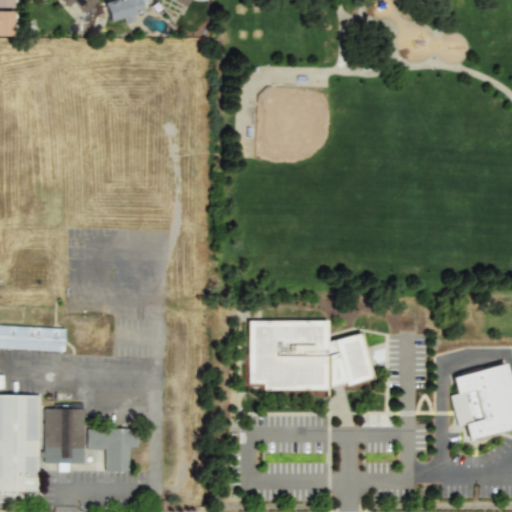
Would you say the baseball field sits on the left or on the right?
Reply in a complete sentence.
The baseball field appears in the right half of the scene.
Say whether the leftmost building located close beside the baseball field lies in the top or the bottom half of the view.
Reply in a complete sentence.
Seen from above, the leftmost building located close beside the baseball field lies in the bottom half of the view.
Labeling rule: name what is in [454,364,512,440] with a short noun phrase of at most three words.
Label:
building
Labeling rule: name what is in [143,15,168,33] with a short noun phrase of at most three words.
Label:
swimming pool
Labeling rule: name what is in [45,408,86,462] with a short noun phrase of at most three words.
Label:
building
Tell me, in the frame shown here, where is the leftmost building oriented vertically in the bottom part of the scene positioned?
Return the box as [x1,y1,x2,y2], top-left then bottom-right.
[0,395,40,493]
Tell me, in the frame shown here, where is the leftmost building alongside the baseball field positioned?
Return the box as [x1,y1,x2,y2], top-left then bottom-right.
[246,320,331,394]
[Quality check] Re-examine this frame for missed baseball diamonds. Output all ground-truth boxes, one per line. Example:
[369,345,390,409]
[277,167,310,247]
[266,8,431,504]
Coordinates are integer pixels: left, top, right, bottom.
[238,71,512,288]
